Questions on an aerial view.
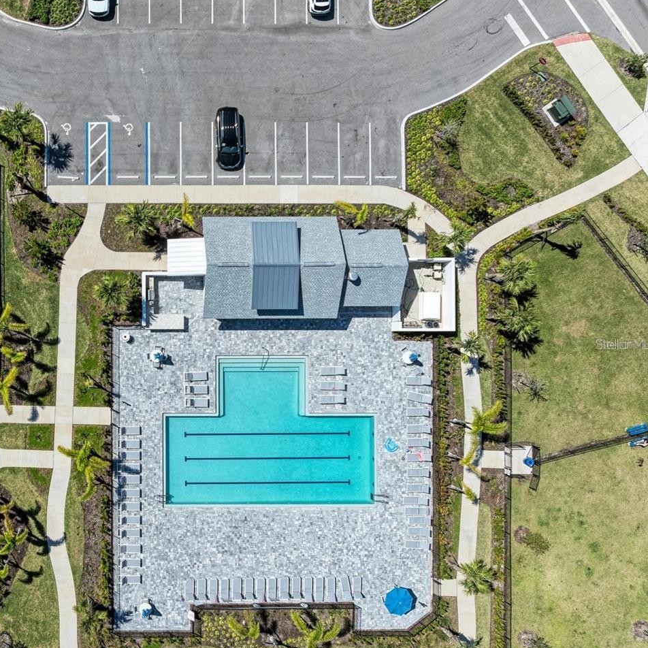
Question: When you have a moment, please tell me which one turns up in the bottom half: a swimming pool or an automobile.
swimming pool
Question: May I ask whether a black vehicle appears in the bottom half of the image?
No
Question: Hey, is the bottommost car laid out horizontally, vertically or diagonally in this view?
vertically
